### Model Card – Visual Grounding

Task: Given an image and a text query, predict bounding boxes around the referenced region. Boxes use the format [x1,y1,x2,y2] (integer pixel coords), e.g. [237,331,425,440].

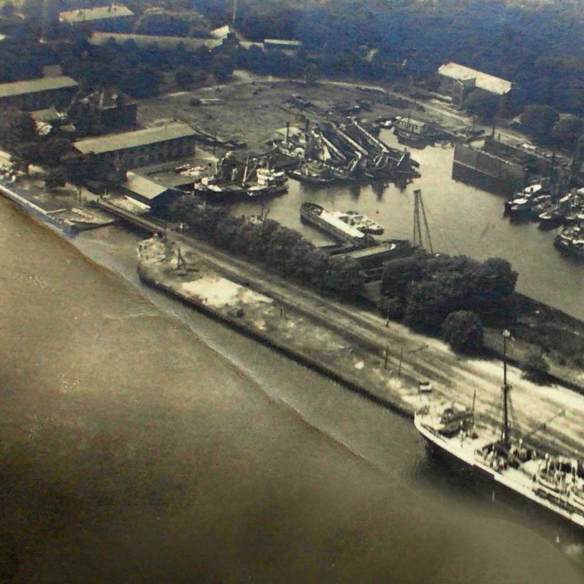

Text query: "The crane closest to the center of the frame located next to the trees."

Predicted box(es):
[410,189,452,260]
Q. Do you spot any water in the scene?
Yes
